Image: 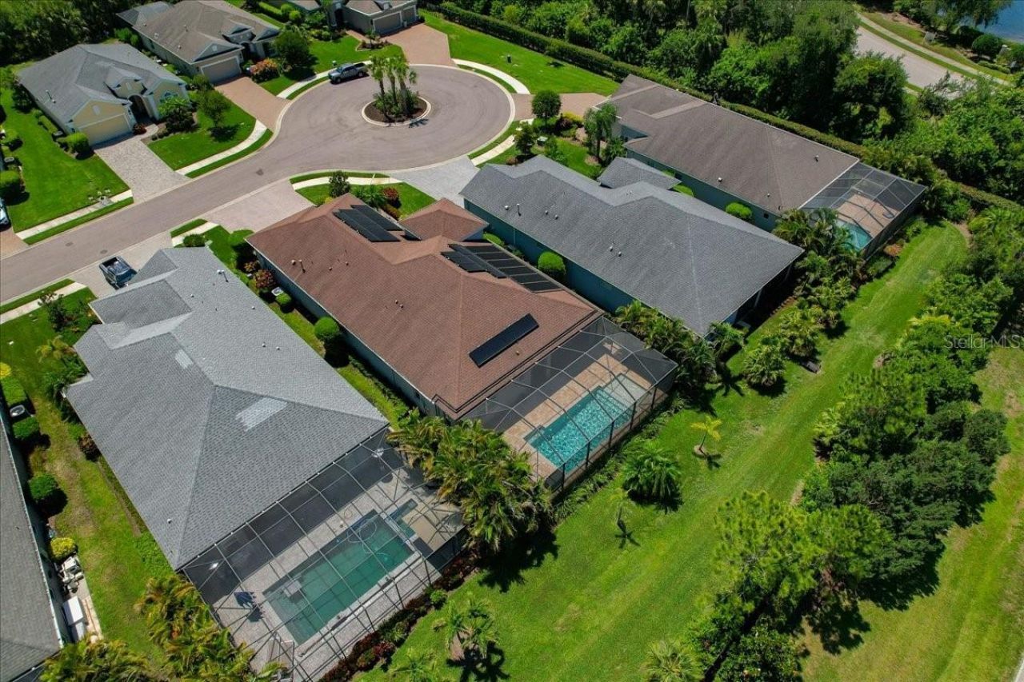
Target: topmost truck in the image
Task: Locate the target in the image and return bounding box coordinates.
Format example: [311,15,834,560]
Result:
[327,60,369,85]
